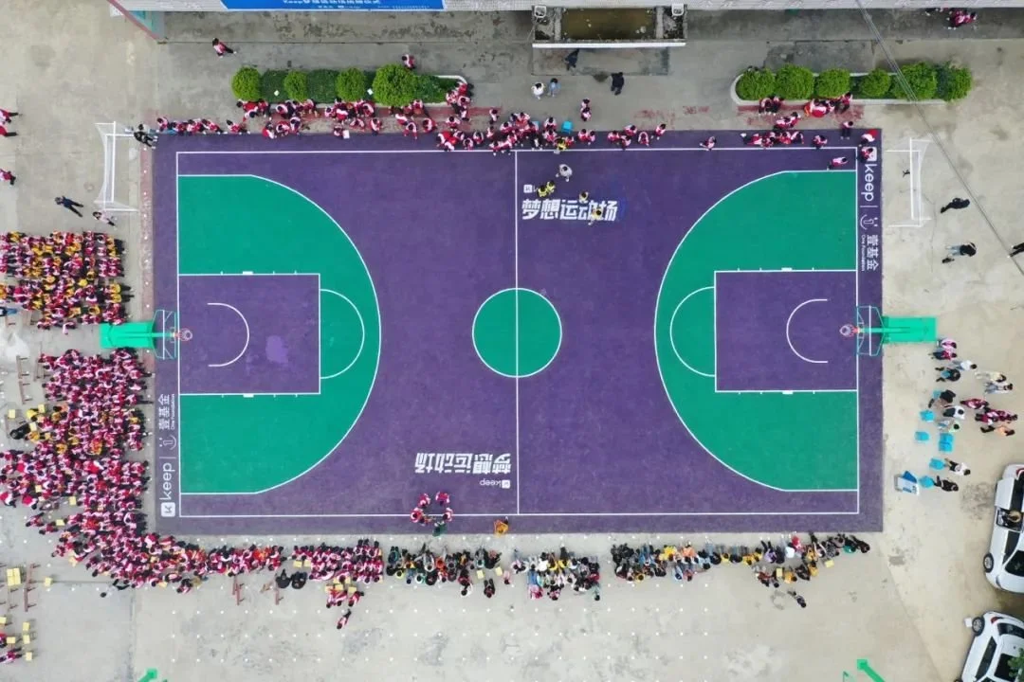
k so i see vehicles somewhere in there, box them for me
[955,607,1024,682]
[982,463,1024,596]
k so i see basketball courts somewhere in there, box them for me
[152,129,884,535]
